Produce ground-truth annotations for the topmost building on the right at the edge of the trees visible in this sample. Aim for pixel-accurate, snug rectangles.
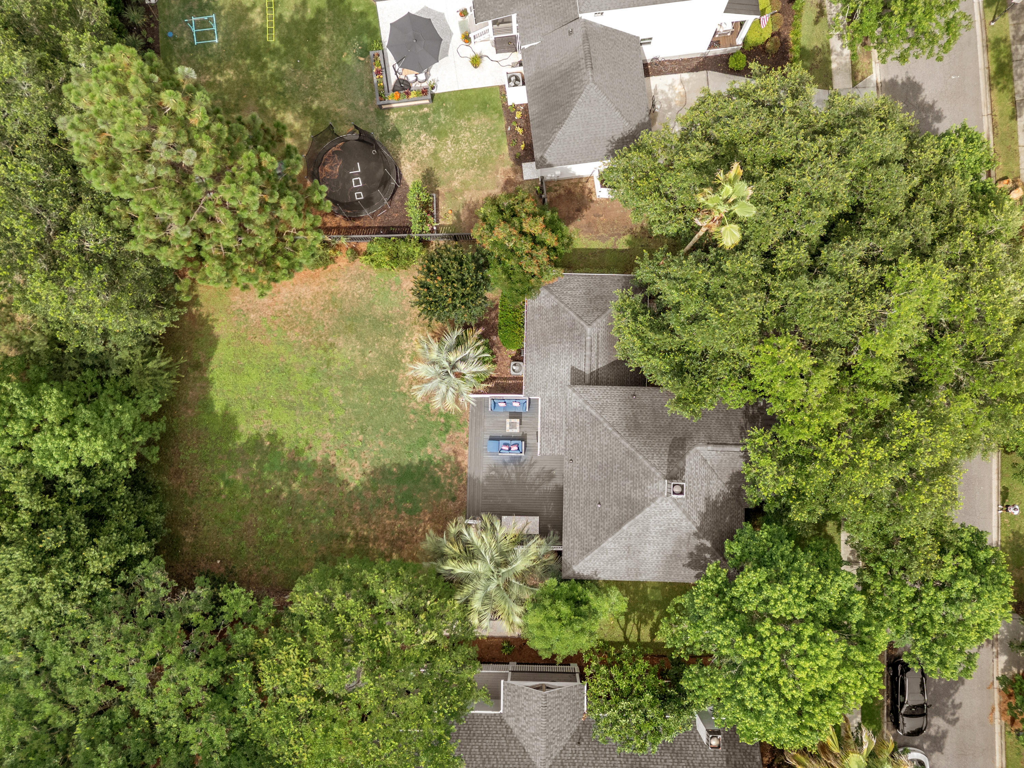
[470,0,764,178]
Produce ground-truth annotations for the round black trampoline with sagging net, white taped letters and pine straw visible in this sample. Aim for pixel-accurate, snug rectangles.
[303,122,395,216]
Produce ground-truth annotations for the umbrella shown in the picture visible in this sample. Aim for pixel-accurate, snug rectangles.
[386,12,442,88]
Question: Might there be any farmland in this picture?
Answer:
No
